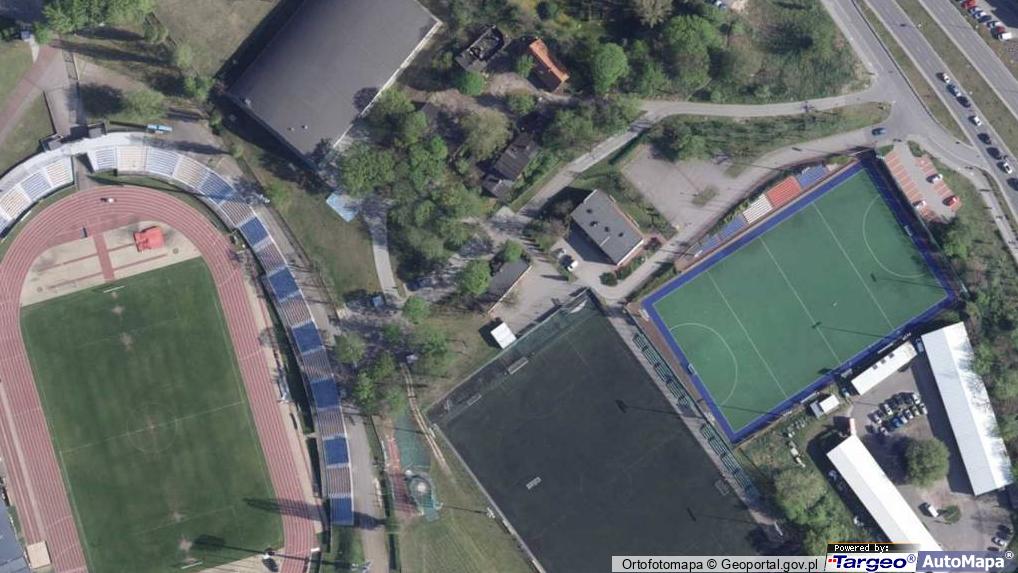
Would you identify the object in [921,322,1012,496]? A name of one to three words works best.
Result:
building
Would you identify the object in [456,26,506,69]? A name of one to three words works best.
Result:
house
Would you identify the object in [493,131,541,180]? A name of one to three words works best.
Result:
house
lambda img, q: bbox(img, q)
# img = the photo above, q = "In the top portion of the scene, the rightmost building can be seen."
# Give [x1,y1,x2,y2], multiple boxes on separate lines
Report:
[572,189,645,265]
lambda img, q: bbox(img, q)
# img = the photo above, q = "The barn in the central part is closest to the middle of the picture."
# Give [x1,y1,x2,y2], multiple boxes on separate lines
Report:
[471,261,531,311]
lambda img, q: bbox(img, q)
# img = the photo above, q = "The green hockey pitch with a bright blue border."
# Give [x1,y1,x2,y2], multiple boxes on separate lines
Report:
[642,155,957,443]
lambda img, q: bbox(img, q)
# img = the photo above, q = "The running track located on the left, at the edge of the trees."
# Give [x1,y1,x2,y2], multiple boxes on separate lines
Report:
[0,185,318,573]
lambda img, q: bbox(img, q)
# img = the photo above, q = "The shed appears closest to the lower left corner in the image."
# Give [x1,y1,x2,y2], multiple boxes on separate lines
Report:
[27,541,51,568]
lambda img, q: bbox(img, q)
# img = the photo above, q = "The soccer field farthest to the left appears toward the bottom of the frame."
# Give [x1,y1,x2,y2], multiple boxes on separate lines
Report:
[21,258,282,573]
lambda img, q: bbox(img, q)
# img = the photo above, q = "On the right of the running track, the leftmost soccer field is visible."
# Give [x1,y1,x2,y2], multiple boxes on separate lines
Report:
[430,291,785,573]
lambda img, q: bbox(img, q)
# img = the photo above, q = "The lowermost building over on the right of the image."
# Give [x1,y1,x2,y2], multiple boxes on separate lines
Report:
[827,435,956,573]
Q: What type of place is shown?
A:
sports ground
